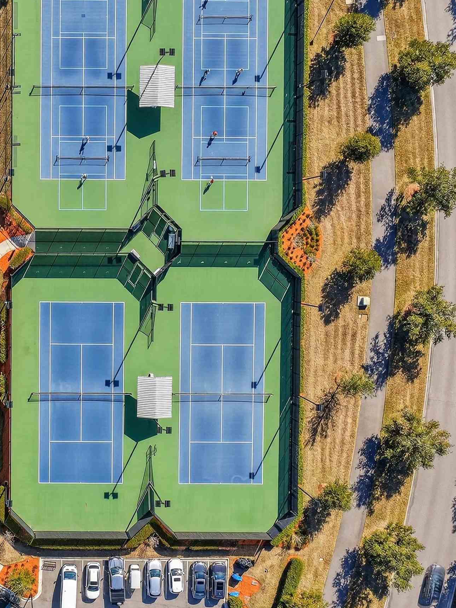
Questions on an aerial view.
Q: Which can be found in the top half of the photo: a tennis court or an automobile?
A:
tennis court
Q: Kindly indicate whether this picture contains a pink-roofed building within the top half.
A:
No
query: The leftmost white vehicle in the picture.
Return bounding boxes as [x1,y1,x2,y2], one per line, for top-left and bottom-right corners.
[58,559,78,608]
